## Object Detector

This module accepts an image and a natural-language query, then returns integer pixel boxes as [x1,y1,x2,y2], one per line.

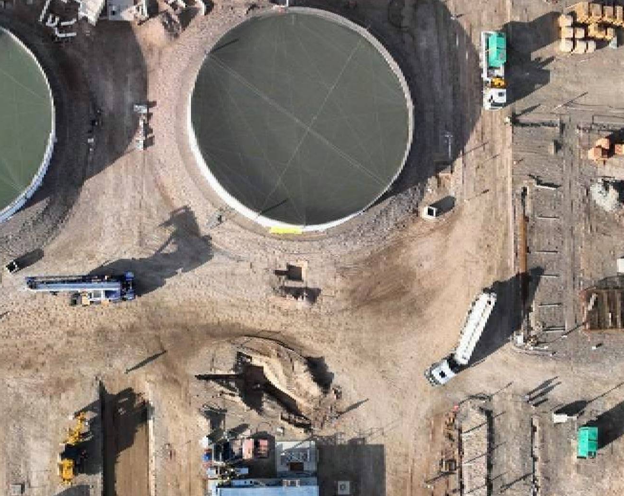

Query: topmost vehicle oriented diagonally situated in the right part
[420,281,502,390]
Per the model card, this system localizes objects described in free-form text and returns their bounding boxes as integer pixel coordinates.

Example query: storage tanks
[0,27,58,231]
[181,0,415,243]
